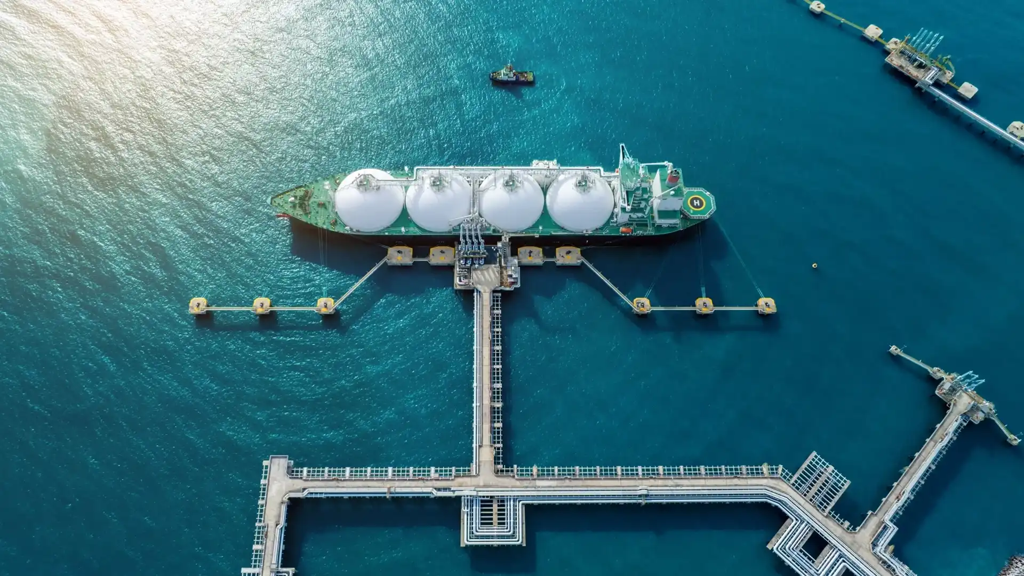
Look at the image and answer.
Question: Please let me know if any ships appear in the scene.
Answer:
Yes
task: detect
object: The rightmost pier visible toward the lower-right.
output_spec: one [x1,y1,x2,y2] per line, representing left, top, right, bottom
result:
[871,389,975,529]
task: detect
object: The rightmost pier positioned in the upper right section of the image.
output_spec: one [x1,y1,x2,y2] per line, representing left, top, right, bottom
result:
[921,84,1024,156]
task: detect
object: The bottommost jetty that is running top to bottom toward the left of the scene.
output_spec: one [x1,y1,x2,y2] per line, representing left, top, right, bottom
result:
[241,455,303,576]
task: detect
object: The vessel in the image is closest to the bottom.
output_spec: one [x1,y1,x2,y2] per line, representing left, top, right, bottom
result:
[269,145,715,247]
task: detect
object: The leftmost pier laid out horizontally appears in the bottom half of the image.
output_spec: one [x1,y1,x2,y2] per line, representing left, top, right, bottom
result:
[288,467,787,547]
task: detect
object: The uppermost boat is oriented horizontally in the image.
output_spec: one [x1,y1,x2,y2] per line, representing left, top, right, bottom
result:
[489,66,536,88]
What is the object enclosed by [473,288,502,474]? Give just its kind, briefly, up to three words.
pier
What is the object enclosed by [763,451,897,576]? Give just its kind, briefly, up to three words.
pier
